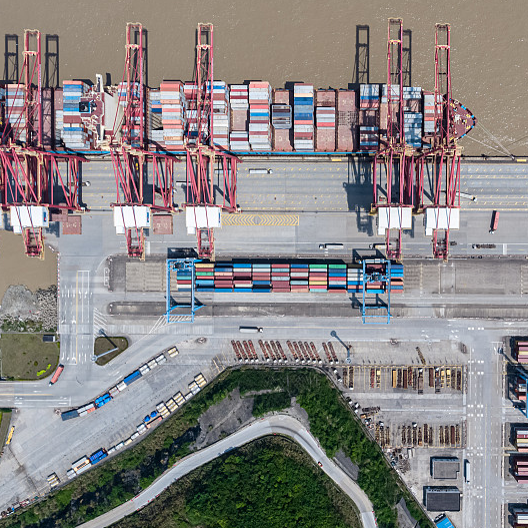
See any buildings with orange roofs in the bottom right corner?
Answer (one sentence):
No, there is no building with an orange roof in the bottom right corner.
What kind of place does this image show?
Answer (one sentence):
This looks like a port.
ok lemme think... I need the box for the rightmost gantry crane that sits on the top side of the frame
[412,22,462,260]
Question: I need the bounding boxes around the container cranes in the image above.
[358,258,394,323]
[412,22,462,260]
[104,23,181,260]
[373,16,414,260]
[166,258,208,323]
[510,369,528,416]
[181,22,242,260]
[0,28,92,260]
